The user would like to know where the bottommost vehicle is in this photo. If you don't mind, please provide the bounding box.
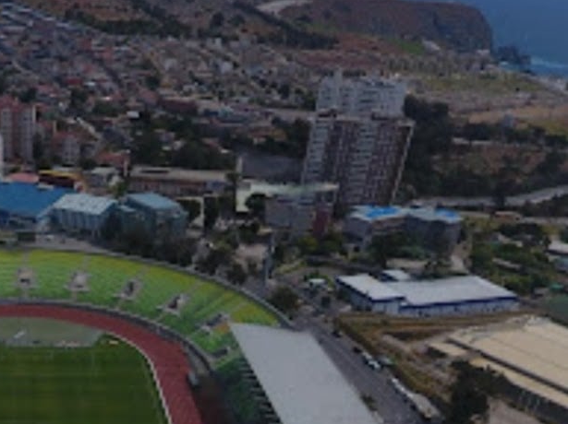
[410,396,438,421]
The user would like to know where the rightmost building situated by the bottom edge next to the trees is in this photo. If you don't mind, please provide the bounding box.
[444,315,568,424]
